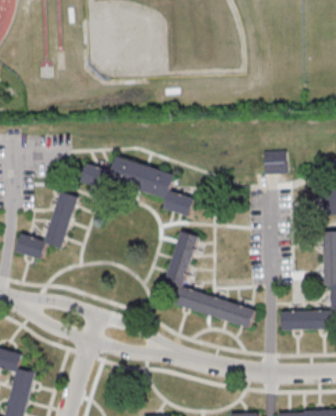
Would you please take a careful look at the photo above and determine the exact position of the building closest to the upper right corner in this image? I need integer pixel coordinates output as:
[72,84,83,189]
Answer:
[263,150,287,173]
